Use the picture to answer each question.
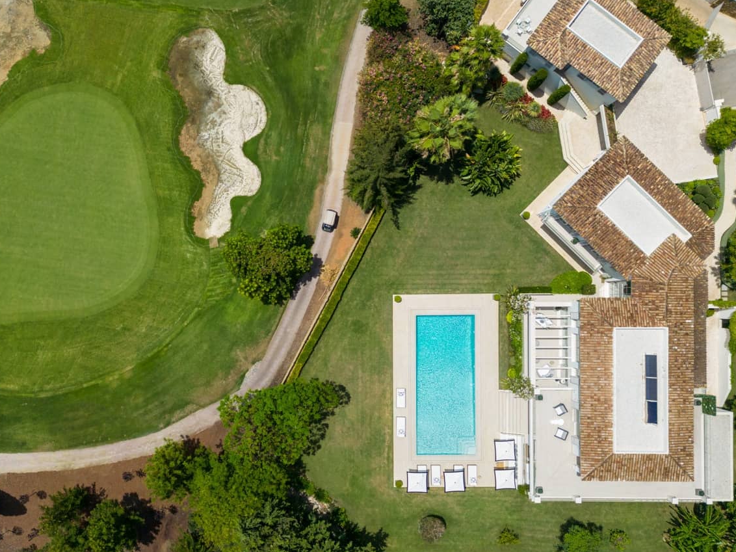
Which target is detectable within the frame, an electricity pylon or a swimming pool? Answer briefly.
swimming pool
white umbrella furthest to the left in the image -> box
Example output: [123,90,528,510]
[406,471,428,493]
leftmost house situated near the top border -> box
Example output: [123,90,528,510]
[492,0,673,110]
